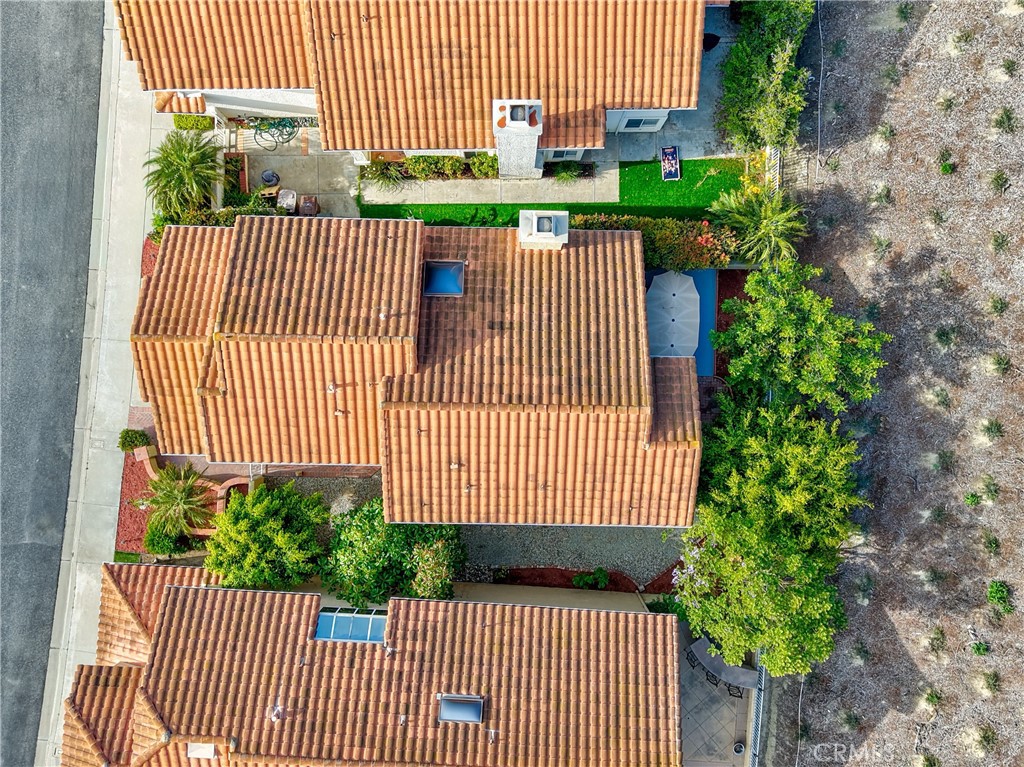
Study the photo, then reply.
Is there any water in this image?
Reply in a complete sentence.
No, no water is visible.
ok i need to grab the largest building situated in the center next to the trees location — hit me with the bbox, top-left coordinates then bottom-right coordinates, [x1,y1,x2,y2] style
[129,208,704,531]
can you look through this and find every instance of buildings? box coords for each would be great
[112,0,735,179]
[60,558,685,767]
[129,208,704,531]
